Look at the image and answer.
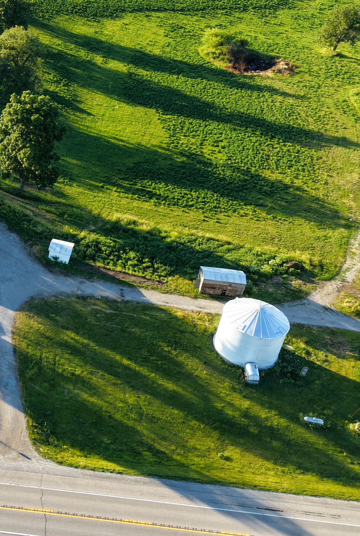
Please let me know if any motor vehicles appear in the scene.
No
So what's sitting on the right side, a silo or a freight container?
silo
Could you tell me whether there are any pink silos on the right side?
No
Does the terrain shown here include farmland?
Yes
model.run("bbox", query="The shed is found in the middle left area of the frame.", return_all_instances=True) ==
[49,239,74,263]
